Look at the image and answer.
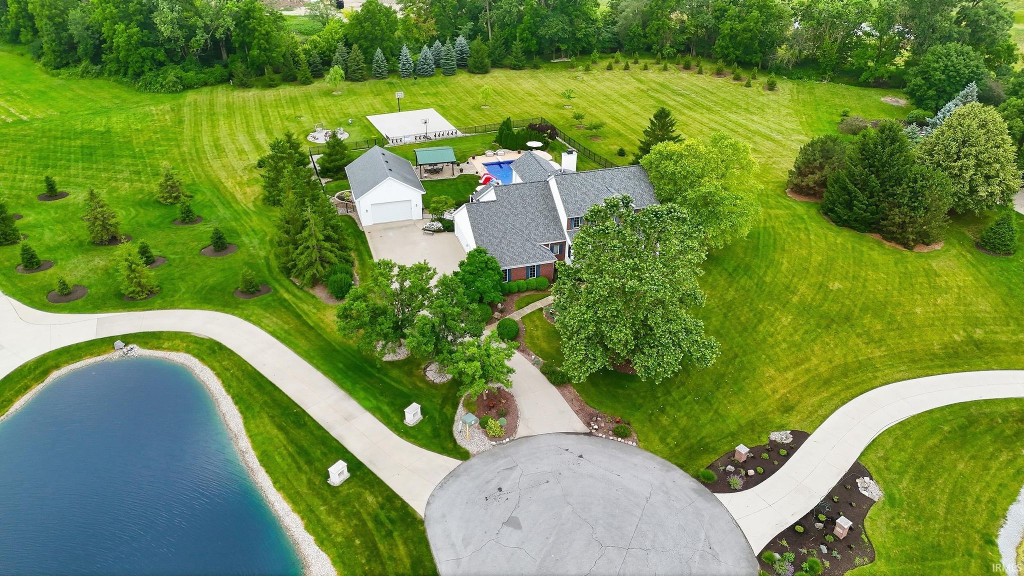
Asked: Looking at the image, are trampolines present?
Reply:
No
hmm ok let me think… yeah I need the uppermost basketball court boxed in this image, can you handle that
[366,108,463,144]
